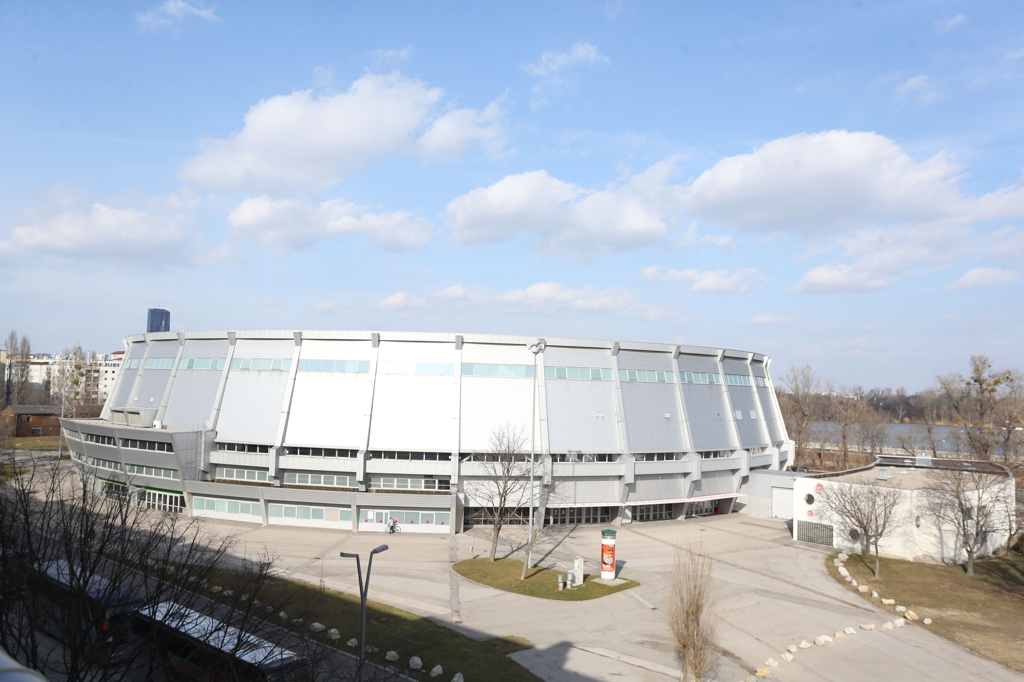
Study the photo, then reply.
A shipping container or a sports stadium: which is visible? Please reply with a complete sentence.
It is a sports stadium that can be seen here.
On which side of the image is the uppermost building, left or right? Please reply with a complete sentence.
You can find the uppermost building on the left side of the picture.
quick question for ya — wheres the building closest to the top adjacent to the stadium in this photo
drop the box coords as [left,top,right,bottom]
[150,301,174,332]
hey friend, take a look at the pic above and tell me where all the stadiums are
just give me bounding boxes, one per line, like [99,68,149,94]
[98,330,796,528]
